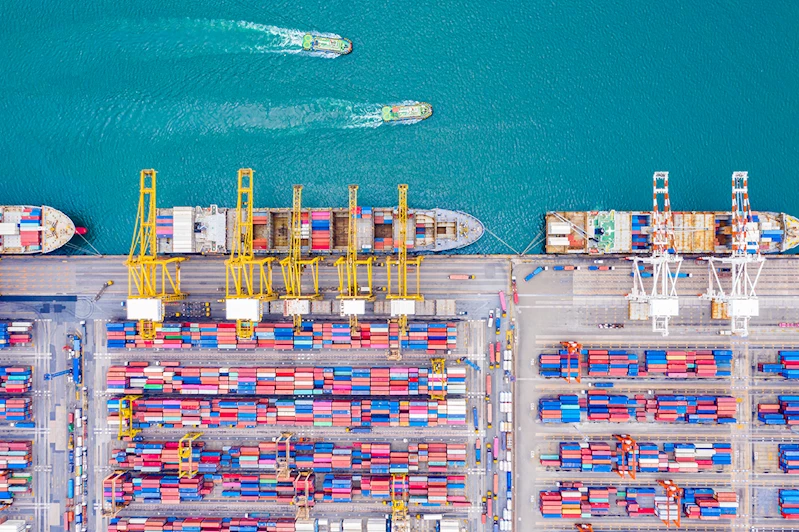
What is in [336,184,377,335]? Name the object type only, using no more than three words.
container crane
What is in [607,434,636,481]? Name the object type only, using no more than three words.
container crane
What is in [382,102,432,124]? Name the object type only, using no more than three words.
boat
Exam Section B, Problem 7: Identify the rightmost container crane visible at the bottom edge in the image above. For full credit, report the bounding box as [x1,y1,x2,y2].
[649,480,681,530]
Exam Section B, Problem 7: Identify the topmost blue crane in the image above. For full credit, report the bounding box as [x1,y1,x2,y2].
[44,335,83,382]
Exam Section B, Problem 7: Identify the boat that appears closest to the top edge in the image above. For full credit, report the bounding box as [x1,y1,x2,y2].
[301,34,353,55]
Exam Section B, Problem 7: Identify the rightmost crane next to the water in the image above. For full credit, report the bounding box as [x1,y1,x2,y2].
[693,172,767,337]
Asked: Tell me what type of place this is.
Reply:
port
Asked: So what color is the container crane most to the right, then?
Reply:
white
